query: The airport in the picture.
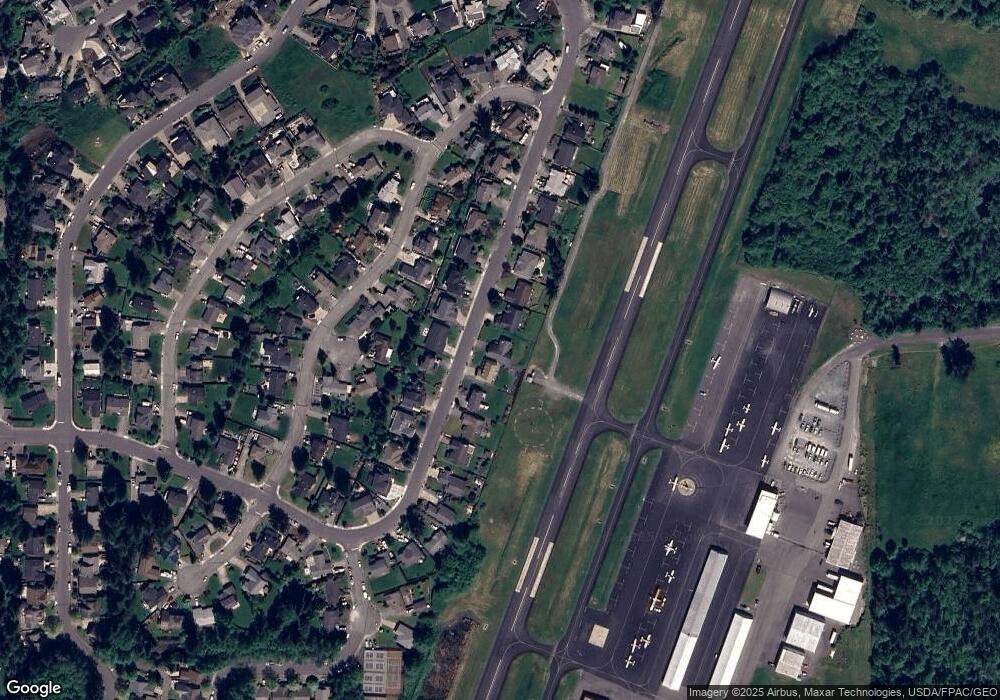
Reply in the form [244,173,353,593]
[415,0,862,700]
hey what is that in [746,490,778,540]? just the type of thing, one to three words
hangar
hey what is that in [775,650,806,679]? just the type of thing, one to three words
building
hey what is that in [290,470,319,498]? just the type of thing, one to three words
house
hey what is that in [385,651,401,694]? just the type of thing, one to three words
tennis court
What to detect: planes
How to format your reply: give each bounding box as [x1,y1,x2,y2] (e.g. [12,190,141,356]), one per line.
[727,423,735,437]
[669,476,679,491]
[667,540,677,556]
[743,401,751,415]
[720,438,730,454]
[736,419,745,432]
[666,569,674,583]
[762,454,771,468]
[627,654,636,669]
[772,421,781,435]
[633,638,642,652]
[711,357,722,370]
[641,634,650,648]
[651,590,663,608]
